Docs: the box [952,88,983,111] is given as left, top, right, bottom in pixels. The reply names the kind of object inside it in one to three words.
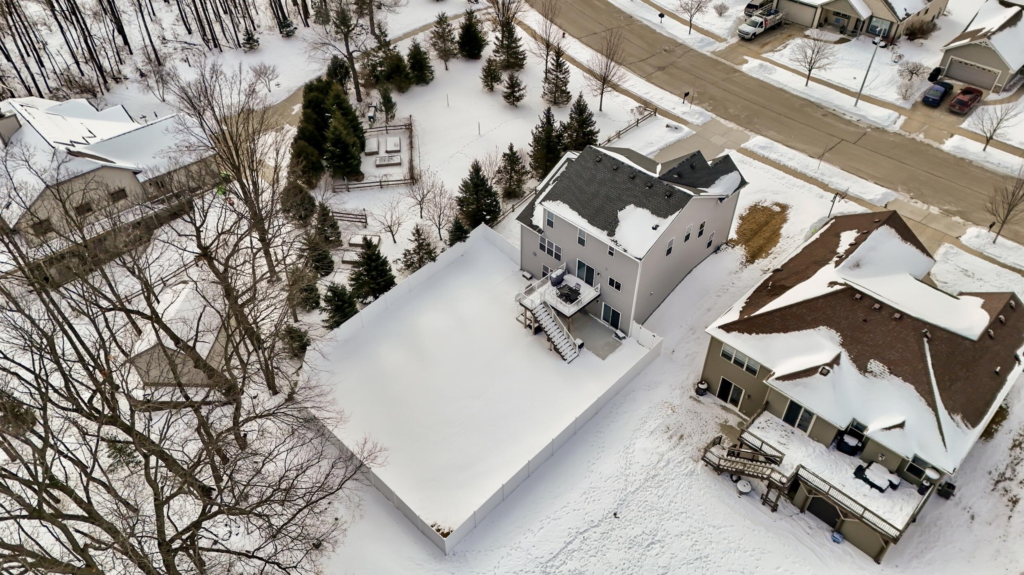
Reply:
car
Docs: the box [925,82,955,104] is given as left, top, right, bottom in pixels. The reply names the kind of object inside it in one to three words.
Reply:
car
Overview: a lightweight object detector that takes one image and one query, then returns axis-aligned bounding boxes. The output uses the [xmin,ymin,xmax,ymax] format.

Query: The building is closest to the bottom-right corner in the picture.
[698,206,1024,553]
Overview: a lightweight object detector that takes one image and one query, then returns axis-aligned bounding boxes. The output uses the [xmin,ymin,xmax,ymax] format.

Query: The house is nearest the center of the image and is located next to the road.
[510,147,749,339]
